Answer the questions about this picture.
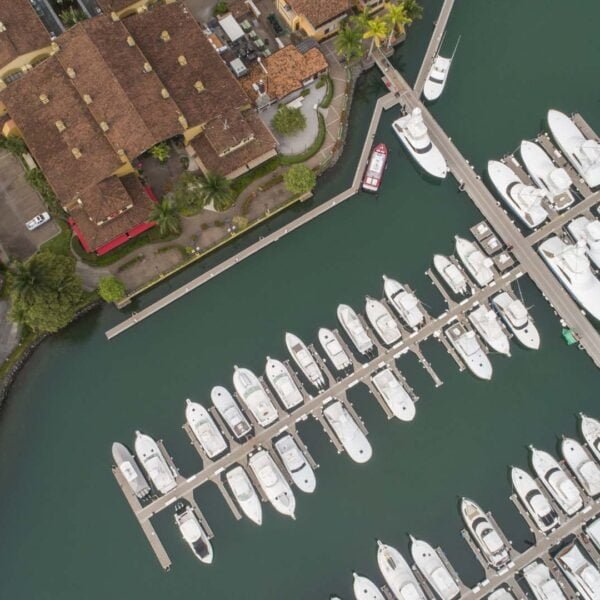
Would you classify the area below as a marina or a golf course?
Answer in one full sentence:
What you see here is a marina.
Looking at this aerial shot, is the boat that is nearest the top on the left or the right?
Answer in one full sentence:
You can find the boat that is nearest the top on the right side of the picture.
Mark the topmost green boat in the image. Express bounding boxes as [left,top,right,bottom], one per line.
[560,328,577,345]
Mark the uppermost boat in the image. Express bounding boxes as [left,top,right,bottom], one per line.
[425,28,472,101]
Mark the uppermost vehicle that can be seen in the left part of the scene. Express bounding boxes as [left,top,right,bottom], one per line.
[22,211,52,231]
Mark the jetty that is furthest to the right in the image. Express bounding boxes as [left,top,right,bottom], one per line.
[507,112,600,254]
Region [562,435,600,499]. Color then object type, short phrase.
white boat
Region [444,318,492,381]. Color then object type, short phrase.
white boat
